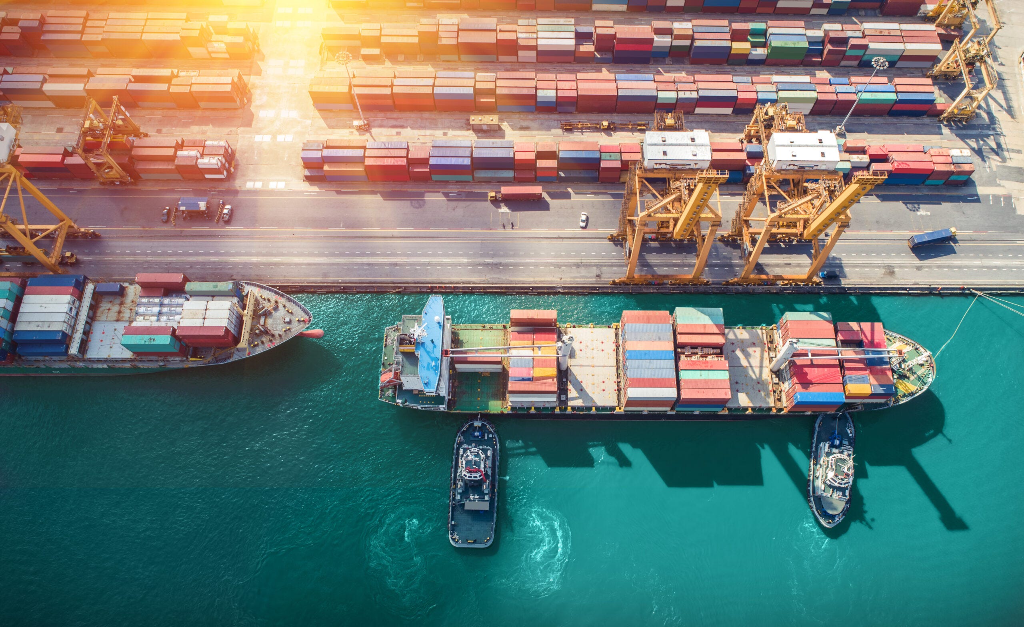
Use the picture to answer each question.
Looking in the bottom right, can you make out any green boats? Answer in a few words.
No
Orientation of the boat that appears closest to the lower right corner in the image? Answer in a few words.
from top to bottom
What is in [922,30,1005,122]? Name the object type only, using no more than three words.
container crane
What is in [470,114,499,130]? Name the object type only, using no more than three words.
shed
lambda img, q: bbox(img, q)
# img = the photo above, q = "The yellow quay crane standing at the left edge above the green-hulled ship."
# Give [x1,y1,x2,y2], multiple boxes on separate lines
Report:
[0,93,103,278]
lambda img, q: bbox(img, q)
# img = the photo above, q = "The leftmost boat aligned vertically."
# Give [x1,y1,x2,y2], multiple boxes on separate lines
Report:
[453,420,499,548]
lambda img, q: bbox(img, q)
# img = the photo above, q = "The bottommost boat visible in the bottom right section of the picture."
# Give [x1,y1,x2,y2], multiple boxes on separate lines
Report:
[807,415,861,531]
